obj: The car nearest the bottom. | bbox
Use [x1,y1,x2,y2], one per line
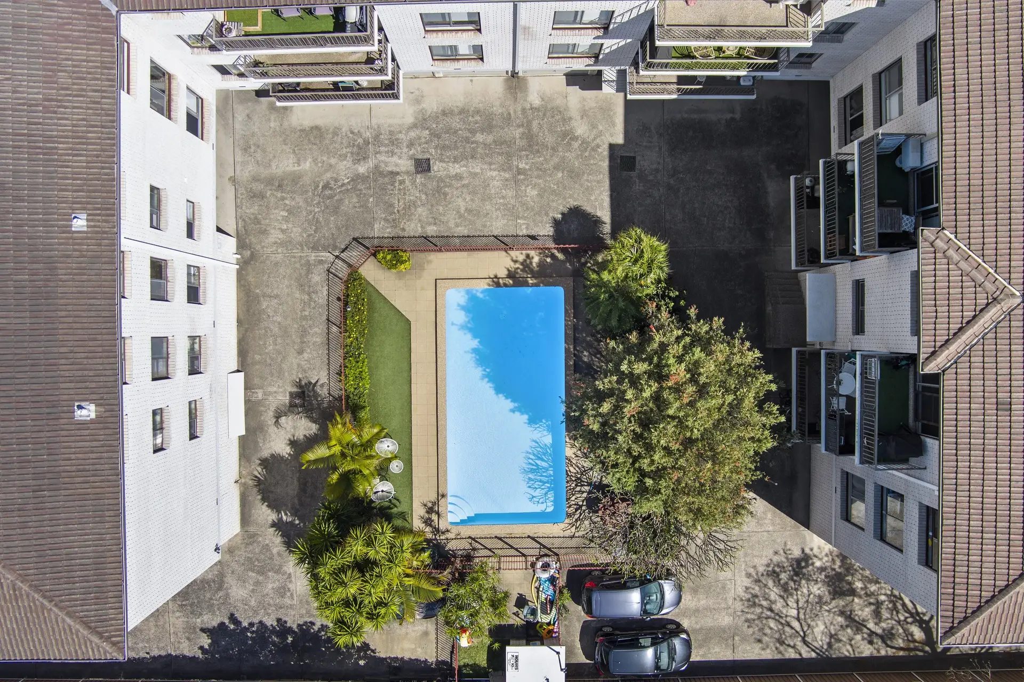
[591,623,691,680]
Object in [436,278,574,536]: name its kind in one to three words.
swimming pool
